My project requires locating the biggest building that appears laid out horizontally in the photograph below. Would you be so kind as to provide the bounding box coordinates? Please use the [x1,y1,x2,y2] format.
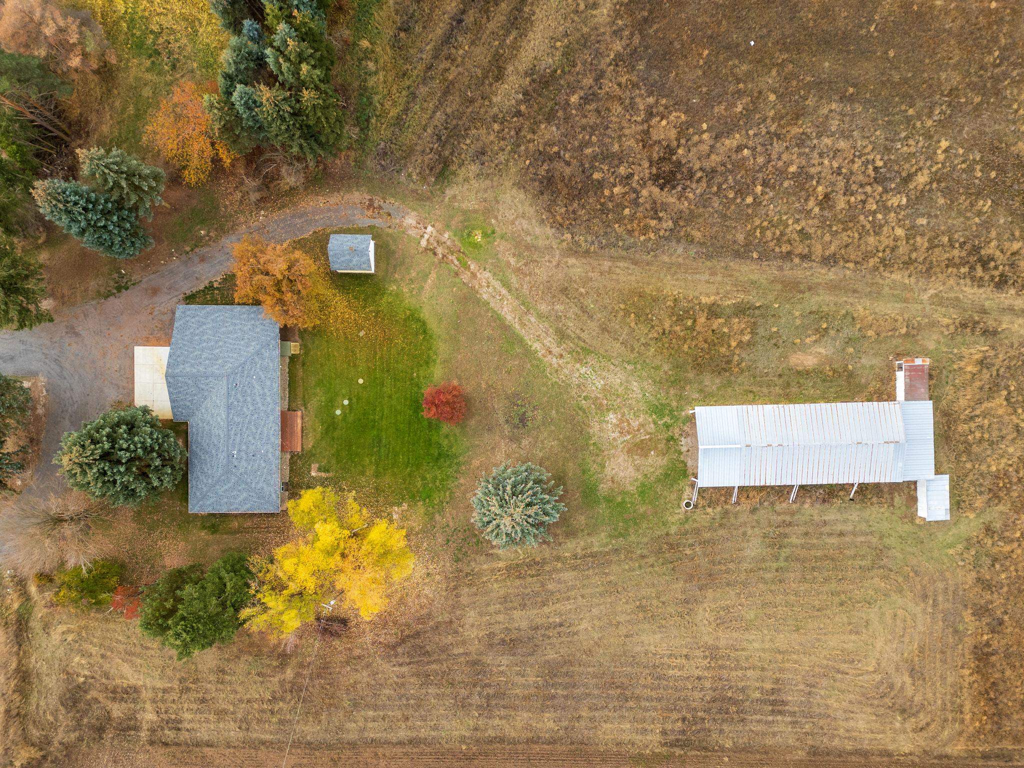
[688,402,910,503]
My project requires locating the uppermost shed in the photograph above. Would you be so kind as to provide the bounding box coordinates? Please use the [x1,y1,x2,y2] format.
[328,235,376,273]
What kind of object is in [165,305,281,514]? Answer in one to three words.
house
